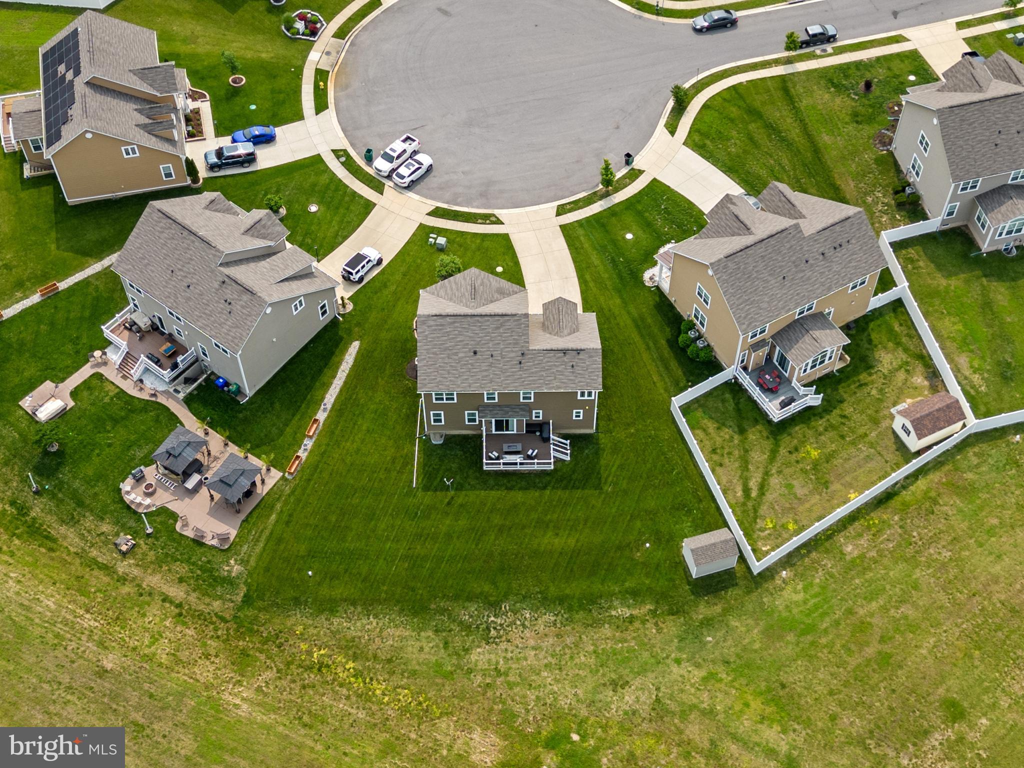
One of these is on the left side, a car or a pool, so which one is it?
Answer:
car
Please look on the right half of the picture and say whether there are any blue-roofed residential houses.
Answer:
No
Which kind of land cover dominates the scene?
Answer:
grass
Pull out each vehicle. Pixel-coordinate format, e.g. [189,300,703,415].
[691,9,739,33]
[341,247,384,286]
[370,134,421,181]
[787,20,843,49]
[961,38,999,64]
[226,125,276,145]
[203,142,257,173]
[391,153,435,191]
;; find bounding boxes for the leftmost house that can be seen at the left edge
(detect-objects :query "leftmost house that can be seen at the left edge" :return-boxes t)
[10,11,189,204]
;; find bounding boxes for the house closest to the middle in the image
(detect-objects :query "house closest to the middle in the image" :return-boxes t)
[417,266,602,433]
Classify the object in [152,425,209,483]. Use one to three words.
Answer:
gazebo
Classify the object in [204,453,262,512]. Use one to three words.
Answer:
gazebo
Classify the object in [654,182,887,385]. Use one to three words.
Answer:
house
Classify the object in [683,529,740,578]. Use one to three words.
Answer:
shed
